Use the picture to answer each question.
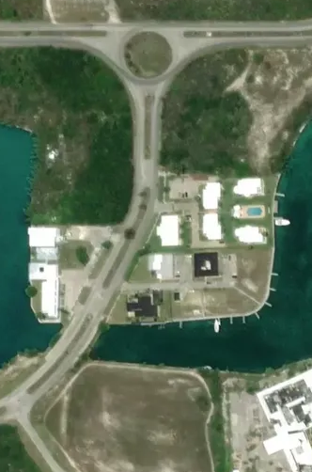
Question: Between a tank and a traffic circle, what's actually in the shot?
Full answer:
The one in the frame is a traffic circle.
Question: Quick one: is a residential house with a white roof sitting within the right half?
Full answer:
Yes, a residential house with a white roof is visible within the right half.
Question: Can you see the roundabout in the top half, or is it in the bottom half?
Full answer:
Seen from above, the roundabout lies in the top half of the view.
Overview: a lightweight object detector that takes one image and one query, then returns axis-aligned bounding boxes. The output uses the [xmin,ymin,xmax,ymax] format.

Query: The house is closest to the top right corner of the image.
[234,178,263,197]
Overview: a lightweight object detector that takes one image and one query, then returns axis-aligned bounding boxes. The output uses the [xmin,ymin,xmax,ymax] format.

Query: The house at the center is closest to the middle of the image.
[157,215,180,246]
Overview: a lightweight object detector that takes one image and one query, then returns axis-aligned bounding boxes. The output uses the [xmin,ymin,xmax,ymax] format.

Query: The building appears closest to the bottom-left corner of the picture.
[29,262,60,318]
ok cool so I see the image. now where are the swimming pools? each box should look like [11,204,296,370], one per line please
[240,205,265,217]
